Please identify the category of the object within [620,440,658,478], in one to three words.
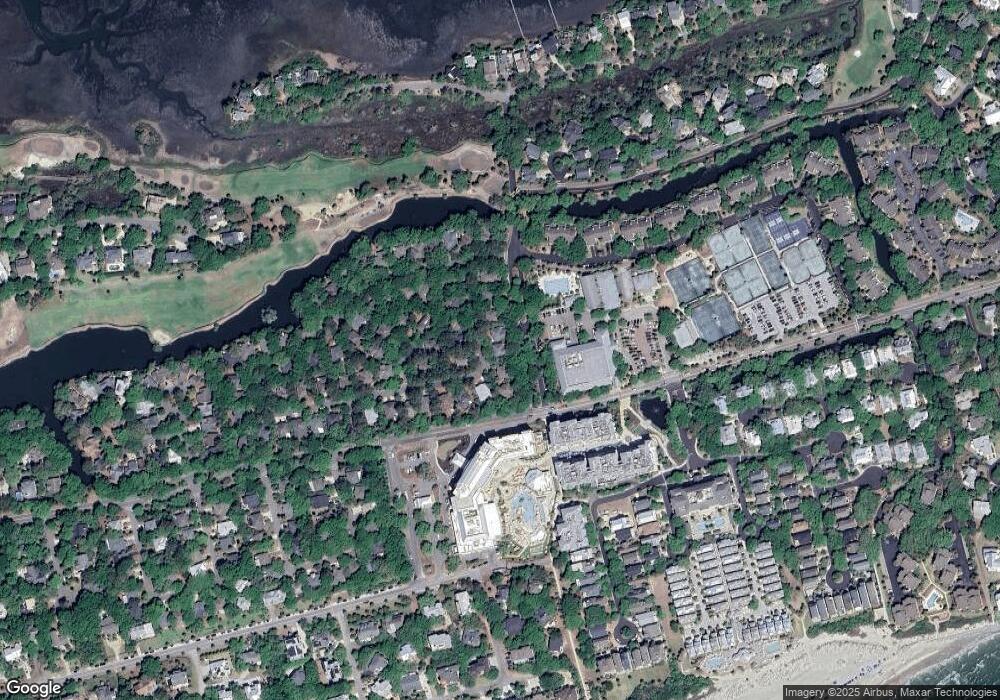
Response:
building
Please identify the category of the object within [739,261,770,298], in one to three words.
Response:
tennis court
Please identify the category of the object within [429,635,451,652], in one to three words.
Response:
house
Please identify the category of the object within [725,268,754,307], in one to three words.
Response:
tennis court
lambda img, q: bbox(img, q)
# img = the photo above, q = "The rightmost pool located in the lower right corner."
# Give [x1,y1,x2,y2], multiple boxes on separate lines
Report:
[921,589,945,611]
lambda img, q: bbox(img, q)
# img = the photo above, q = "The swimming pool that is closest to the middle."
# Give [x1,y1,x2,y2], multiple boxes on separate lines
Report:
[543,276,569,295]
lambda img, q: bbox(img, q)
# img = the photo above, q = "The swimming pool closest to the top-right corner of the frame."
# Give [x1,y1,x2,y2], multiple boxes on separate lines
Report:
[955,208,979,231]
